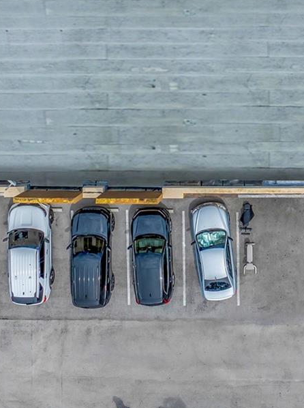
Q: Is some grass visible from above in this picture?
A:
No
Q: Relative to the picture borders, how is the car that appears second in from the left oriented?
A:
vertically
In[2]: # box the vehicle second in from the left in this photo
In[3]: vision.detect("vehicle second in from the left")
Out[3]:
[63,205,115,309]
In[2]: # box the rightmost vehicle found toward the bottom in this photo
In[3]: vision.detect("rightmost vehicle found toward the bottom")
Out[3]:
[189,201,238,303]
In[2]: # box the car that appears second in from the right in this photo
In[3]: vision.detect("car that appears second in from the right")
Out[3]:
[125,207,174,307]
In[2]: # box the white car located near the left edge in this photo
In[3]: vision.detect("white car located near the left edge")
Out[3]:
[1,206,57,306]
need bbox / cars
[189,201,238,303]
[125,207,174,307]
[63,205,115,309]
[1,206,57,306]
